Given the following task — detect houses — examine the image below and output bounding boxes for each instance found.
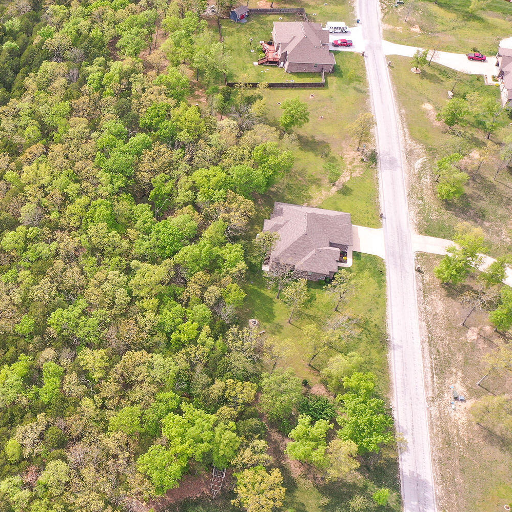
[263,201,353,282]
[496,47,512,109]
[273,22,337,72]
